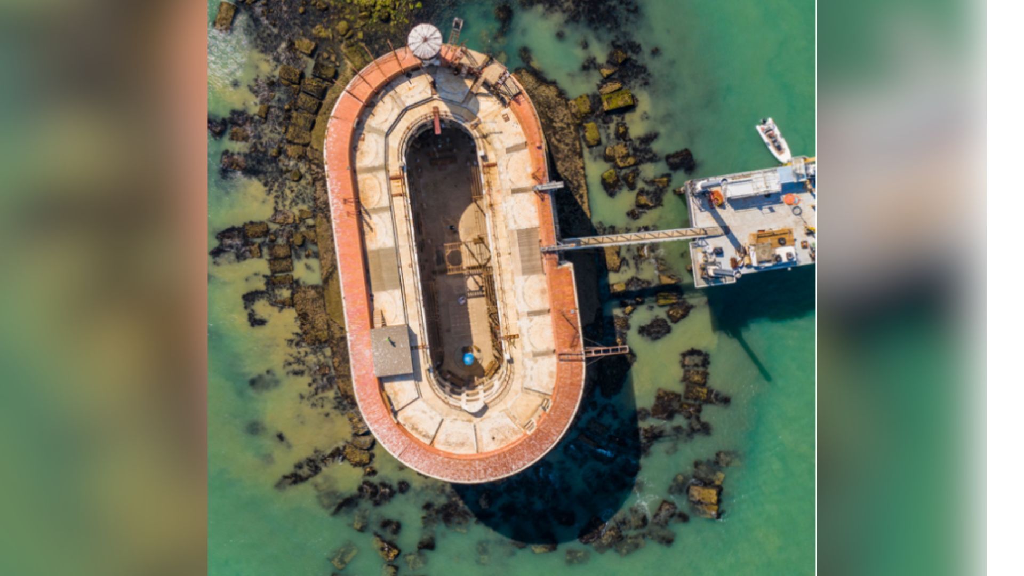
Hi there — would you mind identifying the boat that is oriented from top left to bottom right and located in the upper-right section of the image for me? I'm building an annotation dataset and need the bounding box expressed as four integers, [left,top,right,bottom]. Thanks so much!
[757,118,791,162]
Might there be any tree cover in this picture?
No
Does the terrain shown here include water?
Yes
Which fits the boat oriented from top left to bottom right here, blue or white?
white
